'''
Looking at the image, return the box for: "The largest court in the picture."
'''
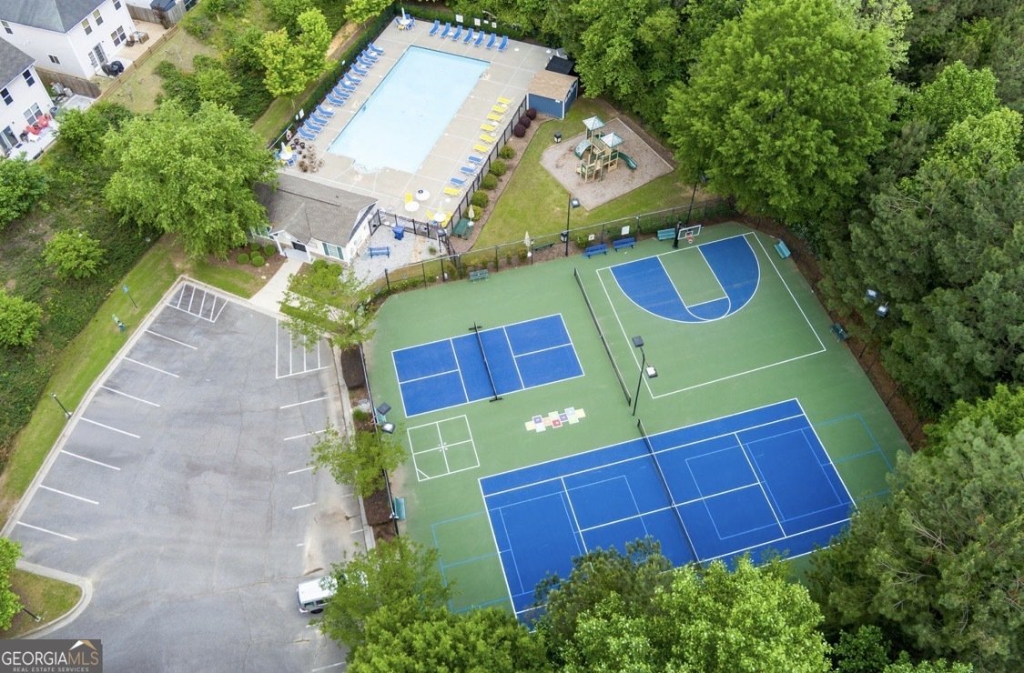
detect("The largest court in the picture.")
[478,398,870,631]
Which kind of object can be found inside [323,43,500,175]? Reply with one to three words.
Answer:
swimming pool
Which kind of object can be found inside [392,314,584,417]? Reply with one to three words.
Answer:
sports court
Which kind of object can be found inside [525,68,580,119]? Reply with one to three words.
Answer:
shed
